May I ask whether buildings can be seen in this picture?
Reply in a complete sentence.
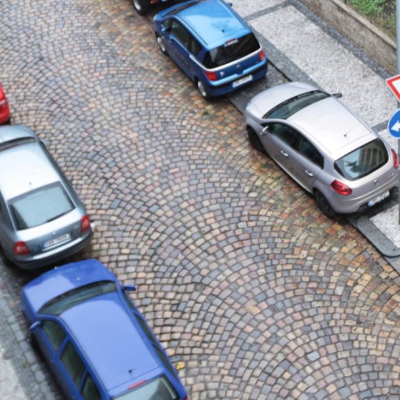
No, I can't see a single building in this photo.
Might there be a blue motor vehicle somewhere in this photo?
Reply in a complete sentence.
Yes, there's a blue motor vehicle here.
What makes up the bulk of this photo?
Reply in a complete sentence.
The scene is dominated by paved ground.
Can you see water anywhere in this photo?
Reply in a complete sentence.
No, no water is visible.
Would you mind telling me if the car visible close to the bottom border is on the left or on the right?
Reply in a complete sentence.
You can find the car visible close to the bottom border on the left side of the picture.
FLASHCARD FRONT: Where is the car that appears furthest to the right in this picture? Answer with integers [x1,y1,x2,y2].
[255,90,399,221]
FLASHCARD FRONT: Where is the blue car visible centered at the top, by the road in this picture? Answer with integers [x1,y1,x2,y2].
[157,0,277,104]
